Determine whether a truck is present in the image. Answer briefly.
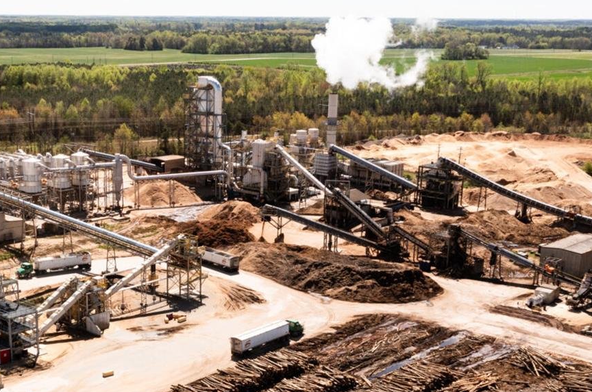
Yes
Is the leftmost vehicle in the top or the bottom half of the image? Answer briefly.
bottom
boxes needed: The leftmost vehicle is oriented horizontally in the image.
[19,255,91,275]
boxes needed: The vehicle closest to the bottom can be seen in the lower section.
[229,320,301,353]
